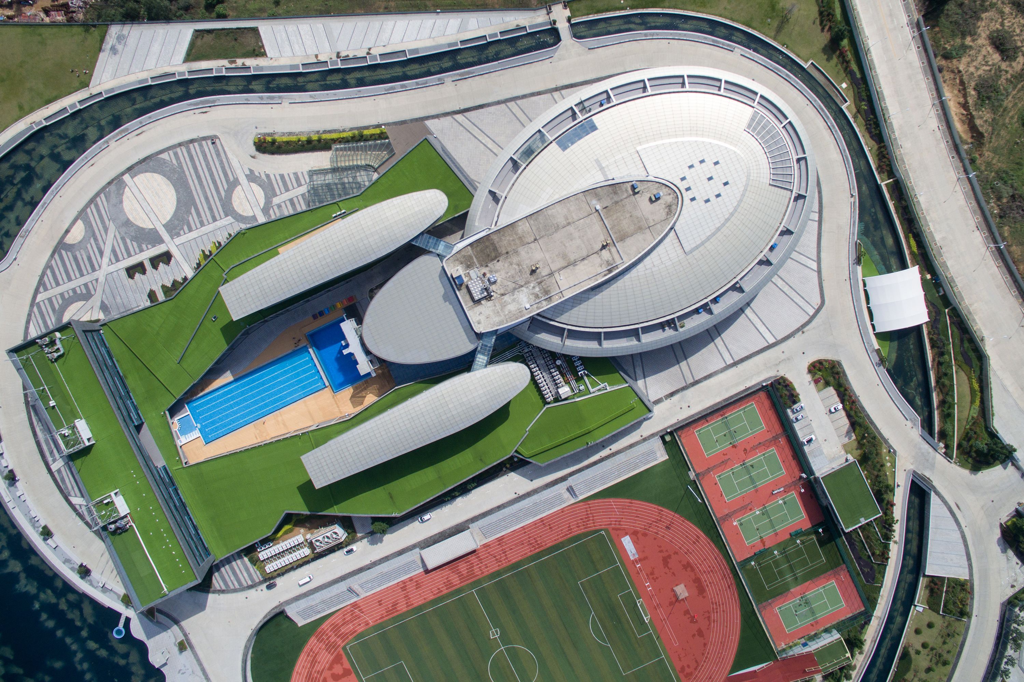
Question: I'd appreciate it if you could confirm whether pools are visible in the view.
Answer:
Yes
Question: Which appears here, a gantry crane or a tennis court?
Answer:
tennis court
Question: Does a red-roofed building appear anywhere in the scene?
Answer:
Yes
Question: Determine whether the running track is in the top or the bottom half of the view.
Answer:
bottom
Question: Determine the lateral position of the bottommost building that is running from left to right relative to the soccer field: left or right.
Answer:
to the right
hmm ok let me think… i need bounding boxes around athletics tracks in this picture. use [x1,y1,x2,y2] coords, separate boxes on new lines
[286,498,742,682]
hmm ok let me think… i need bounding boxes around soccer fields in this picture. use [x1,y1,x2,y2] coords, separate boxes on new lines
[343,528,674,682]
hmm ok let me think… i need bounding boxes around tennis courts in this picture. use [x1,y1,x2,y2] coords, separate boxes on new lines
[735,492,805,546]
[776,581,845,633]
[756,537,825,590]
[715,448,785,502]
[694,402,765,457]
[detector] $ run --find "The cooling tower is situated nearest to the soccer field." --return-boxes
[311,523,349,552]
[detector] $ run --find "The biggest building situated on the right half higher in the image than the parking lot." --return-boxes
[463,65,815,357]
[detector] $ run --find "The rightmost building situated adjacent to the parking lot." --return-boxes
[813,454,881,534]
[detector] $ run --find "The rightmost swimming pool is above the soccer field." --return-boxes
[305,315,376,395]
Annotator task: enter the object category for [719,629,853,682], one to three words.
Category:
building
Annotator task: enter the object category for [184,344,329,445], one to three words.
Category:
swimming pool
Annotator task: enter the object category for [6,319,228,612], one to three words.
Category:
building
